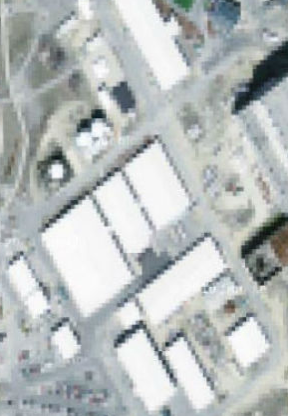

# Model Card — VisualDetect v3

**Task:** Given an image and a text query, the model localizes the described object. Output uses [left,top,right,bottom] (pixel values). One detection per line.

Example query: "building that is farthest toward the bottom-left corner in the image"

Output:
[52,323,80,360]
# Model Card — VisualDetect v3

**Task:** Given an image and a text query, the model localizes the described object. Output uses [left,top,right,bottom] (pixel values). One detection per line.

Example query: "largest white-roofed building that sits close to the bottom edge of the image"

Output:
[116,330,177,412]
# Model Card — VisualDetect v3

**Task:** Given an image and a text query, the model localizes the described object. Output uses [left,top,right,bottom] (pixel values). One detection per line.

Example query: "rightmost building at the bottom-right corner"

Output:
[227,317,271,369]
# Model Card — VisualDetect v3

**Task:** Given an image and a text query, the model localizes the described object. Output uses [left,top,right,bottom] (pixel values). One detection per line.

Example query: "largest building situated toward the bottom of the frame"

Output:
[40,196,135,319]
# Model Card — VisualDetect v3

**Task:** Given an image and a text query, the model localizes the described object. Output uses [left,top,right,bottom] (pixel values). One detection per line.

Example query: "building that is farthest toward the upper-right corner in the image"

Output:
[210,0,239,30]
